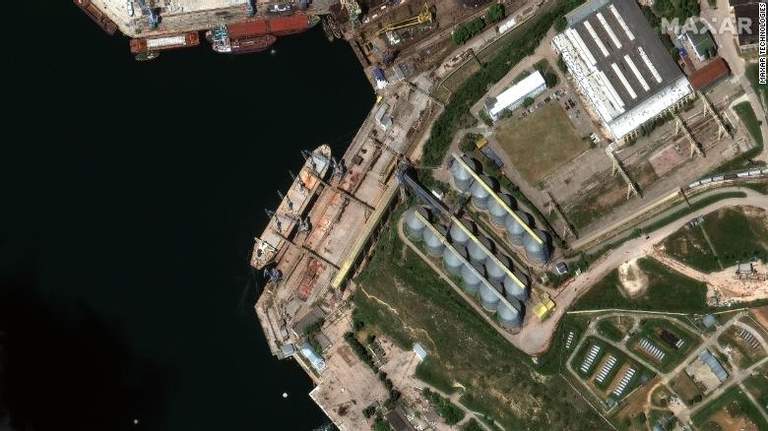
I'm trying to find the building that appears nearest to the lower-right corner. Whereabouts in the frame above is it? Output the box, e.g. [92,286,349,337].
[698,347,729,383]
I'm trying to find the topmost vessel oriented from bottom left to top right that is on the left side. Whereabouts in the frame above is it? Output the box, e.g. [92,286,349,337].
[250,144,332,268]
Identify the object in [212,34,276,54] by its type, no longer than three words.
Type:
ship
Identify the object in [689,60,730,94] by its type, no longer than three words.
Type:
building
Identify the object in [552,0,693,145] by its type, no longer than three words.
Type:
building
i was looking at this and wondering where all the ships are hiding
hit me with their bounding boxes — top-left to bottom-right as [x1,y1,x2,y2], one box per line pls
[250,144,332,268]
[207,13,320,43]
[130,31,200,54]
[212,34,276,54]
[76,0,117,36]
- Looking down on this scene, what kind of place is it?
port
